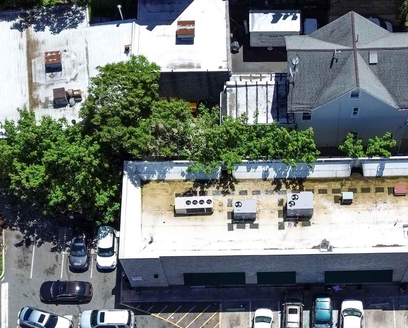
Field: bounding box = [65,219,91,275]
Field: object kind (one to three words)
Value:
car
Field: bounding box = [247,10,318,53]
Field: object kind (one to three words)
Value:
truck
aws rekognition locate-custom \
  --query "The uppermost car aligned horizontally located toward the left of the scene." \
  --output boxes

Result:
[38,278,93,304]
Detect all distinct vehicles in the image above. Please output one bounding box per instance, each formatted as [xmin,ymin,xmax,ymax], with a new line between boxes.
[78,308,136,328]
[92,224,119,274]
[247,10,318,53]
[249,307,275,328]
[15,307,75,328]
[309,296,335,328]
[279,293,306,328]
[65,219,91,275]
[38,278,93,304]
[338,299,365,328]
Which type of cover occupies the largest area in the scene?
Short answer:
buildings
